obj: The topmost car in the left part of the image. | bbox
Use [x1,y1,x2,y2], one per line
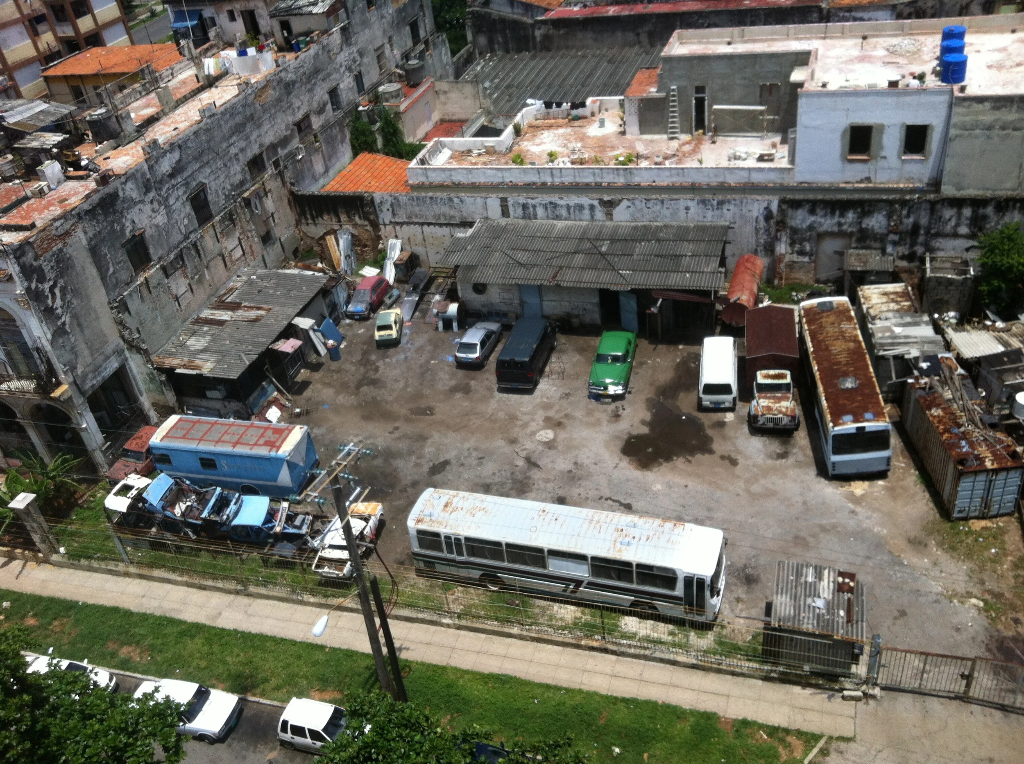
[346,272,397,320]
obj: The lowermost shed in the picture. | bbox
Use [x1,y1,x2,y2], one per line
[763,561,864,674]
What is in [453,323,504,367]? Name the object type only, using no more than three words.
car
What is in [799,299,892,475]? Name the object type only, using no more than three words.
bus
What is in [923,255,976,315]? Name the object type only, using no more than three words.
shed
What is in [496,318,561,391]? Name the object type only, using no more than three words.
van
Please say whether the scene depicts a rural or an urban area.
urban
